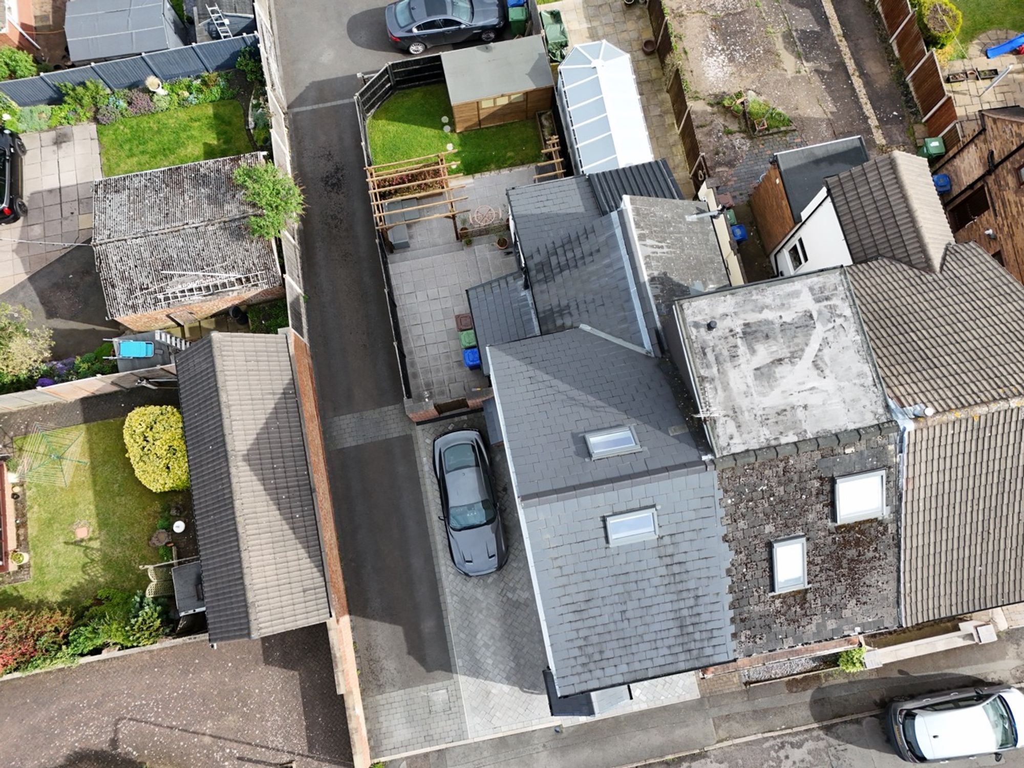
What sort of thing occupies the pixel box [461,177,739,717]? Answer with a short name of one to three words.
house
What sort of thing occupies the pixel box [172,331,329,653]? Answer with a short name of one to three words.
building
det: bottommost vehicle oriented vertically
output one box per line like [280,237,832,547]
[433,427,507,578]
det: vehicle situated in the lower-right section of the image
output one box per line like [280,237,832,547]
[882,678,1024,766]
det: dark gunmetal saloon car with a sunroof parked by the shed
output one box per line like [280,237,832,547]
[384,0,510,53]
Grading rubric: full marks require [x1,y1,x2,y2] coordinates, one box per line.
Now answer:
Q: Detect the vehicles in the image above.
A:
[882,678,1024,766]
[0,125,31,229]
[433,427,507,578]
[384,0,510,53]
